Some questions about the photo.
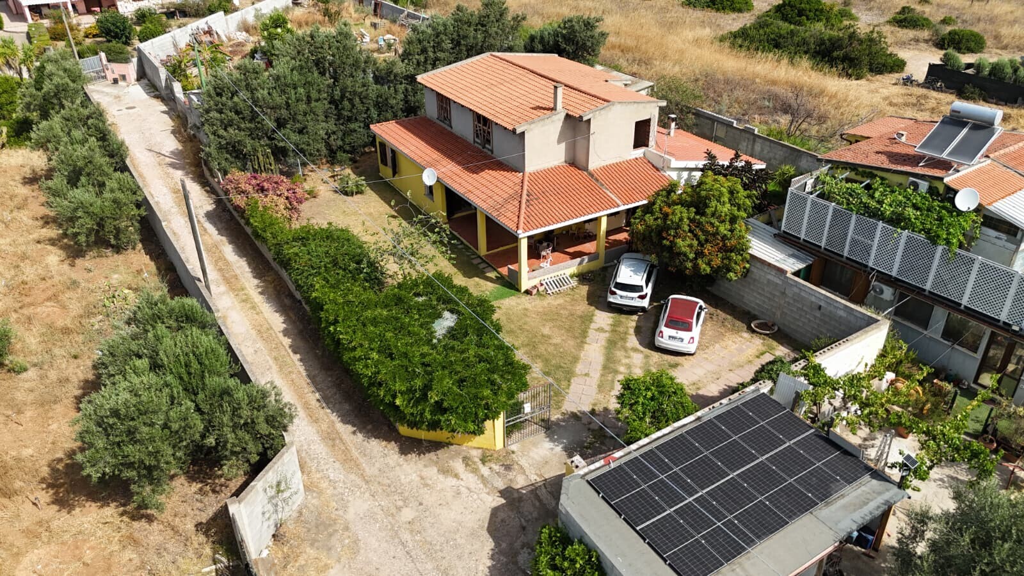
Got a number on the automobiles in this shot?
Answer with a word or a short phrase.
2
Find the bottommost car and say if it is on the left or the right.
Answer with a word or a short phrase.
right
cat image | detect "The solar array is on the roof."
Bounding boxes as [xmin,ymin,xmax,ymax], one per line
[589,392,875,576]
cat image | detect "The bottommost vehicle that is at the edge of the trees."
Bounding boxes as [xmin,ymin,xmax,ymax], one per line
[654,292,710,351]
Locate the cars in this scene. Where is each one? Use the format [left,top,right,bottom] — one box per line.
[654,292,710,351]
[608,250,664,311]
